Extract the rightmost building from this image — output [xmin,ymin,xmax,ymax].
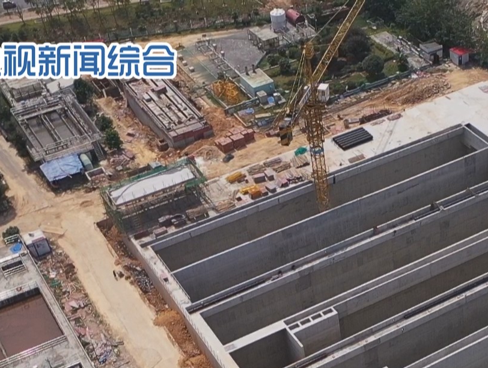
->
[450,44,471,71]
